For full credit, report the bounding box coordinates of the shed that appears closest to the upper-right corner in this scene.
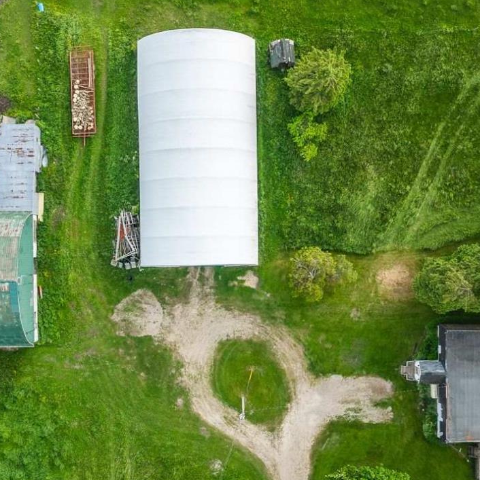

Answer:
[272,34,295,70]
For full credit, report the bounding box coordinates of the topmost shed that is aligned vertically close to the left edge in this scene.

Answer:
[0,115,44,213]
